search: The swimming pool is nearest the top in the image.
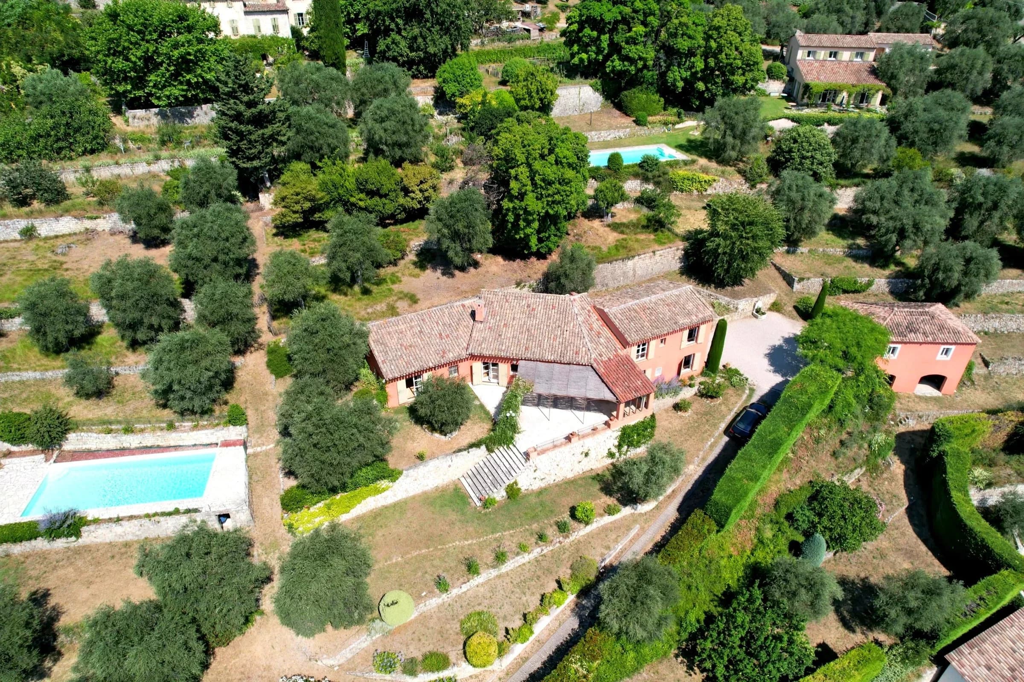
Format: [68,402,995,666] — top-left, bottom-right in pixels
[571,143,686,174]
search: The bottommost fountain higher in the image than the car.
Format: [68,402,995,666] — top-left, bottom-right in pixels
[749,301,771,323]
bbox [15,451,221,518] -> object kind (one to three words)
swimming pool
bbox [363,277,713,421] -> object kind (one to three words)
house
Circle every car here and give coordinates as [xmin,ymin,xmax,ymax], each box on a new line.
[729,398,771,440]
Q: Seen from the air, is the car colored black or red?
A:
black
